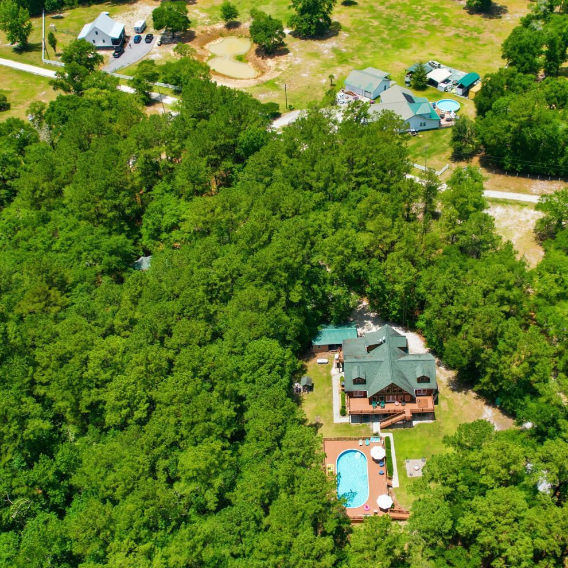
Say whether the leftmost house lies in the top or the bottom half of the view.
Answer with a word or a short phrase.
top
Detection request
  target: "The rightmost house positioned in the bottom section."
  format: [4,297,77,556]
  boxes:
[341,322,437,427]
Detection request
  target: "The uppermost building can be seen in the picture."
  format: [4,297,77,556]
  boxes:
[77,12,127,46]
